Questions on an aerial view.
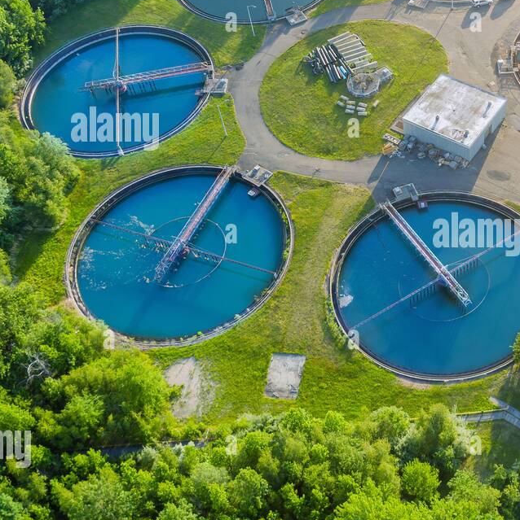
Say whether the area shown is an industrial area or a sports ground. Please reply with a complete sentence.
It's an industrial area.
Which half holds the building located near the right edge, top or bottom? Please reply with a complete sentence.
The building located near the right edge is in the top half of the image.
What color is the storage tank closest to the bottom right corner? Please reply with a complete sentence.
In this view, the storage tank closest to the bottom right corner is blue.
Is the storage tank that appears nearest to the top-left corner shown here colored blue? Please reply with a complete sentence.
Yes, the storage tank that appears nearest to the top-left corner appears blue.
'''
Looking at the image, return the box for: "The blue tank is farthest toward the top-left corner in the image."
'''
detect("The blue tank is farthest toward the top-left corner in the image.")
[19,25,217,161]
